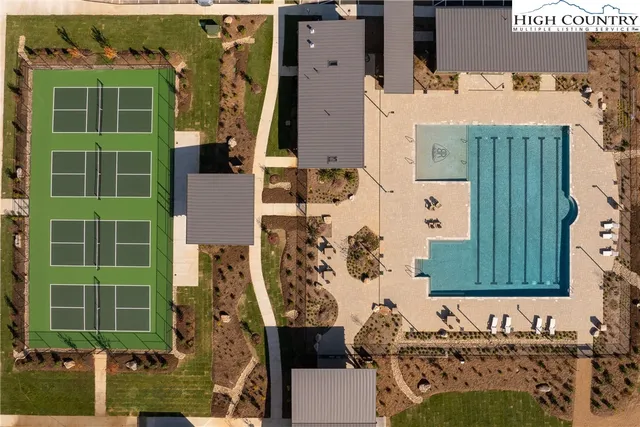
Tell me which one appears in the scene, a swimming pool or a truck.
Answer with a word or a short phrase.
swimming pool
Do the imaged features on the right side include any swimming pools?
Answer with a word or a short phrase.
Yes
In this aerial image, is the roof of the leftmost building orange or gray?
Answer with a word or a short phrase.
gray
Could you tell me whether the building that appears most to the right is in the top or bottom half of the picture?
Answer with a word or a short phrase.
top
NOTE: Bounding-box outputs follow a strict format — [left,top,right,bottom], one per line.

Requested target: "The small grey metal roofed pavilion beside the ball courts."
[187,174,255,245]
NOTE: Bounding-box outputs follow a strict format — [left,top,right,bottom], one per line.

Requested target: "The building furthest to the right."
[436,8,589,76]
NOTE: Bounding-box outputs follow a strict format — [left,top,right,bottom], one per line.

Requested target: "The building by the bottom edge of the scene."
[291,368,377,427]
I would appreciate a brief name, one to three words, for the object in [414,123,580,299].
swimming pool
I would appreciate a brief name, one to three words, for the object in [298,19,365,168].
building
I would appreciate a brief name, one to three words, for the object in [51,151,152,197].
sports court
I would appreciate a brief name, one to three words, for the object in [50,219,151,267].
sports court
